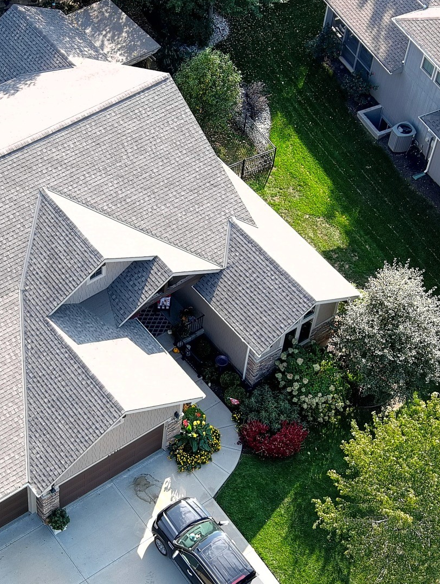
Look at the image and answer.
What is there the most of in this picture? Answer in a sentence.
The largest share of the image is taken up by buildings.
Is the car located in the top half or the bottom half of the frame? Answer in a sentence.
Seen from above, the car lies in the bottom half of the view.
